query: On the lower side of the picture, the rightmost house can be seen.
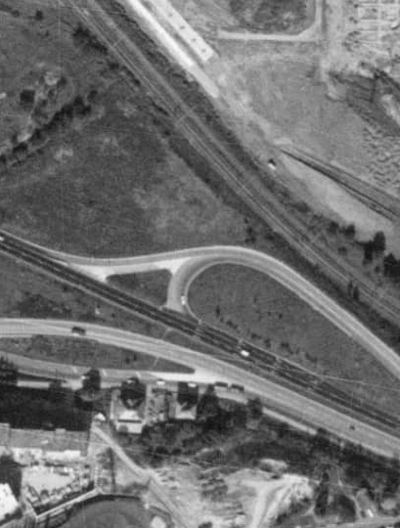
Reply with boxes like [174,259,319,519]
[175,405,196,425]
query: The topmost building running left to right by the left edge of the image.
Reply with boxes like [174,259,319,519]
[9,426,92,455]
